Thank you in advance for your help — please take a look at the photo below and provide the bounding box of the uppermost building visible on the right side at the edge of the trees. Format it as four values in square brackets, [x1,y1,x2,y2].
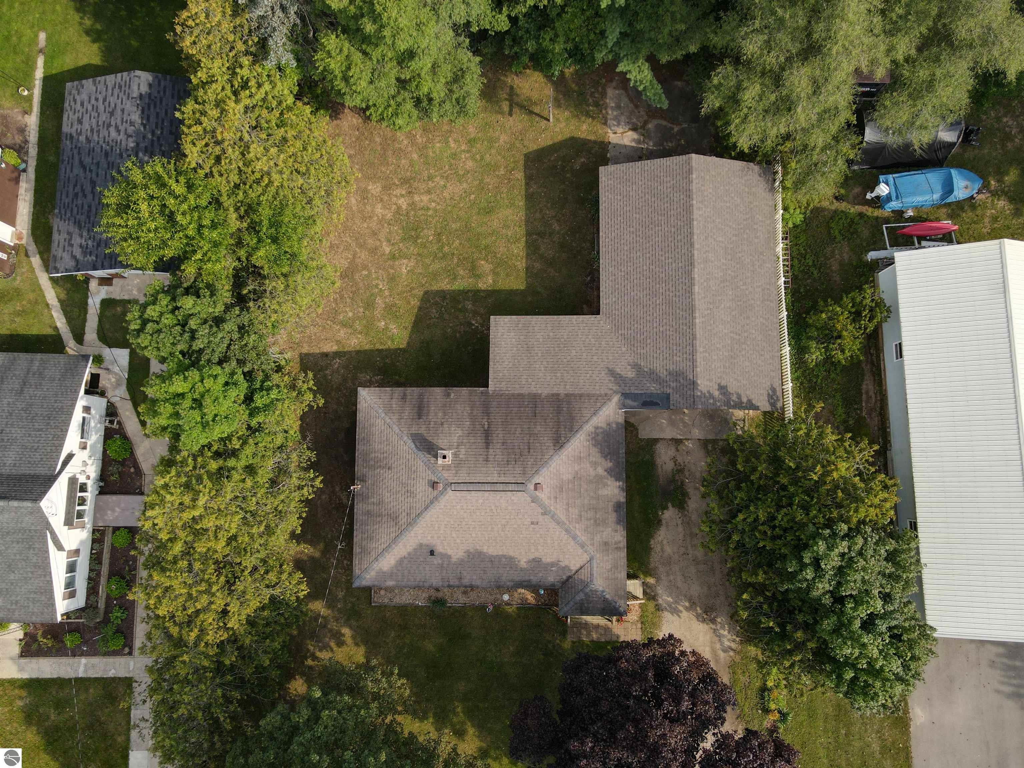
[487,153,783,413]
